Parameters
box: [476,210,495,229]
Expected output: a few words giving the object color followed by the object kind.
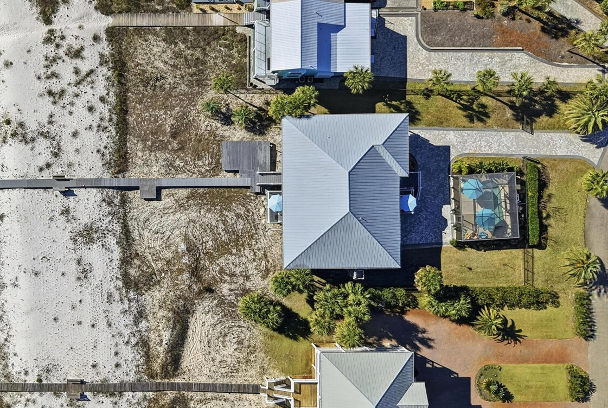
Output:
blue umbrella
